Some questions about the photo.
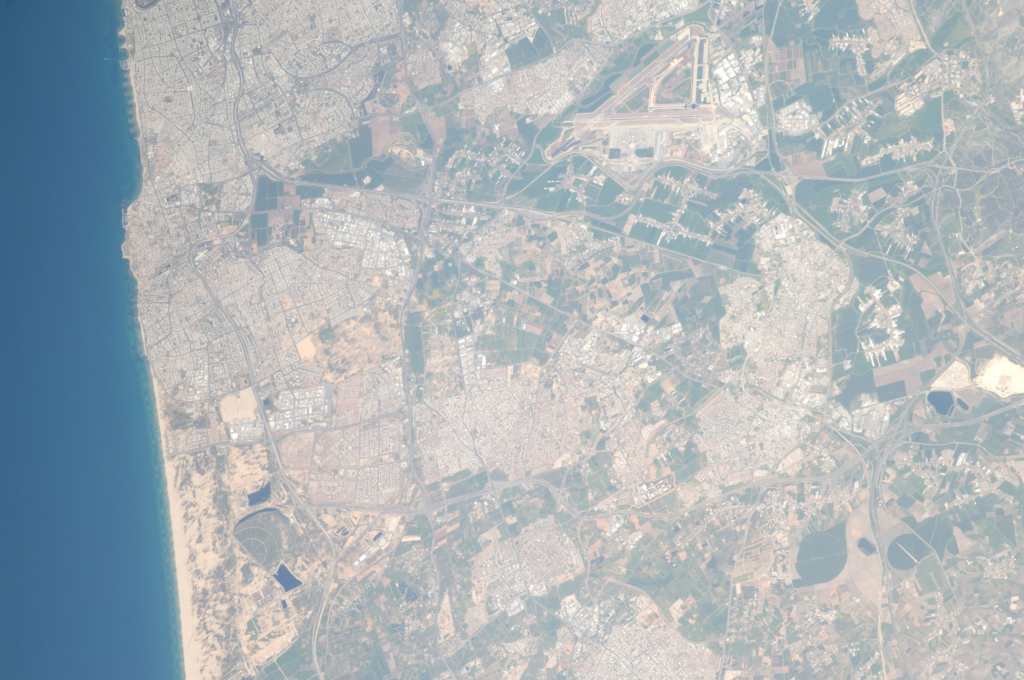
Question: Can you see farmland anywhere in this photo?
Yes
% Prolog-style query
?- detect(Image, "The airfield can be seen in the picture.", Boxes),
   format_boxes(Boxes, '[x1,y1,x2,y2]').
[546,26,756,170]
